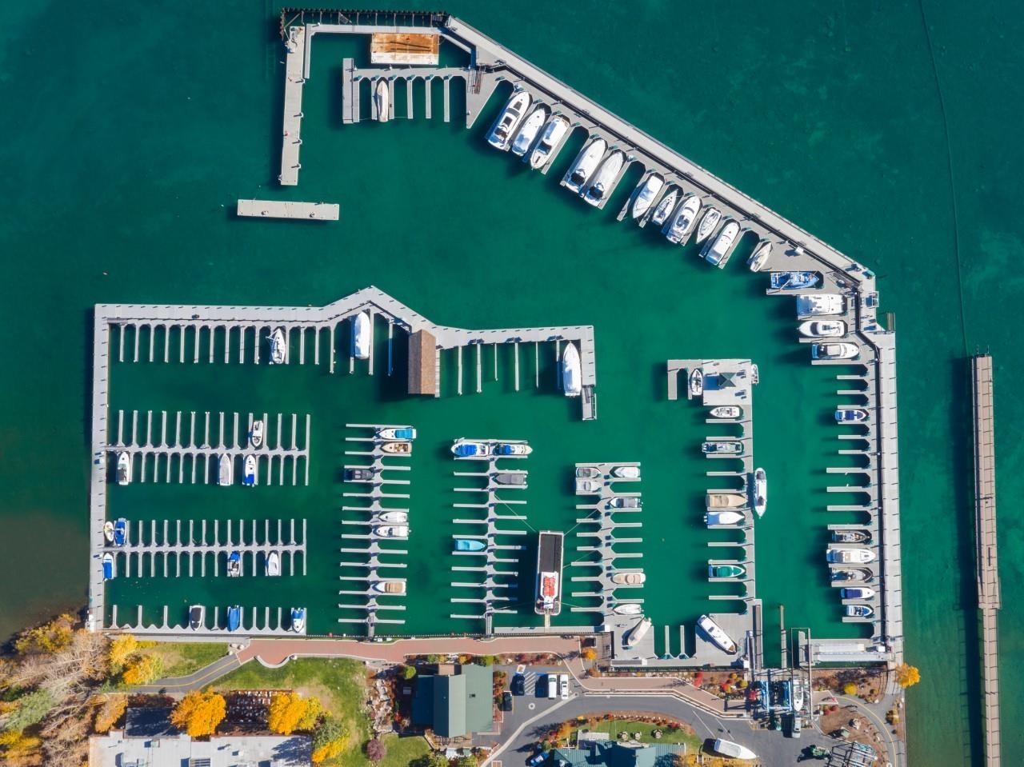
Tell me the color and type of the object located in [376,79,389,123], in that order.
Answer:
white boat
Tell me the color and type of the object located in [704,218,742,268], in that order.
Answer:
white boat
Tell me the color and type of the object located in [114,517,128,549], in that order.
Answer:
blue boat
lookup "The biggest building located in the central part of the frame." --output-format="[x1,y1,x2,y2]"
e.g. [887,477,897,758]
[409,328,436,394]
